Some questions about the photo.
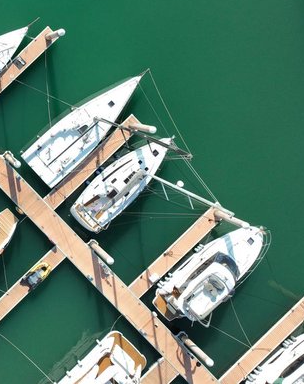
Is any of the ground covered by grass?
No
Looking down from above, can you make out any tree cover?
No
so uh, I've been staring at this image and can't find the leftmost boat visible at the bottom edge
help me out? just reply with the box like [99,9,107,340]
[50,329,146,384]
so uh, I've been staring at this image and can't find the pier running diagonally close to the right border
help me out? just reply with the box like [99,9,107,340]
[216,293,304,384]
